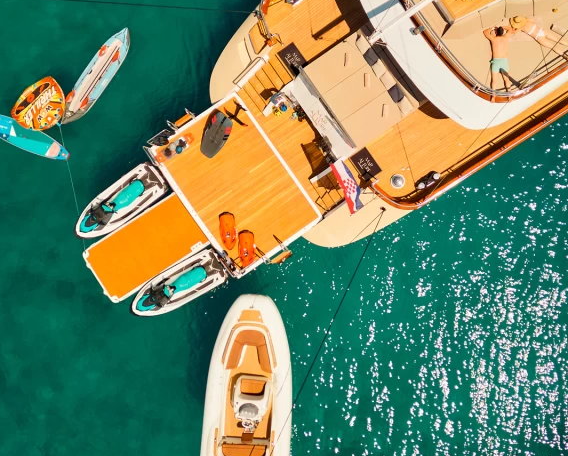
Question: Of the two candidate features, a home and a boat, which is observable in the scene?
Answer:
boat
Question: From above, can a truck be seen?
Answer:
No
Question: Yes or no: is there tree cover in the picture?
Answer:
No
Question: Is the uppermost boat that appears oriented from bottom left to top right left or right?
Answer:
left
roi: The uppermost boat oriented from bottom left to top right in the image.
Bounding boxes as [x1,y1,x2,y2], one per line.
[66,28,130,124]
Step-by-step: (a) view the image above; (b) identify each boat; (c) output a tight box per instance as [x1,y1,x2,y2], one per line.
[66,28,130,124]
[138,0,568,279]
[138,245,229,311]
[83,159,170,232]
[197,295,292,456]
